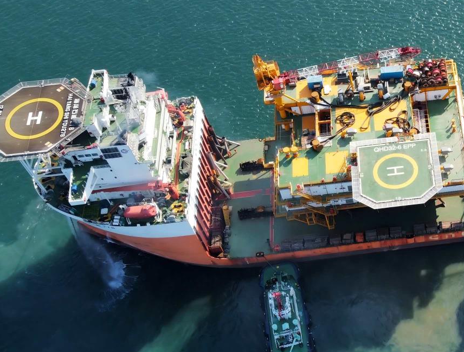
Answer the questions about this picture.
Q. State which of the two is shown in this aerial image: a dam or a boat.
boat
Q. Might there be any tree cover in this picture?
No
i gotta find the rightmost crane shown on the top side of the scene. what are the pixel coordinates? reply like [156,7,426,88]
[247,42,427,131]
